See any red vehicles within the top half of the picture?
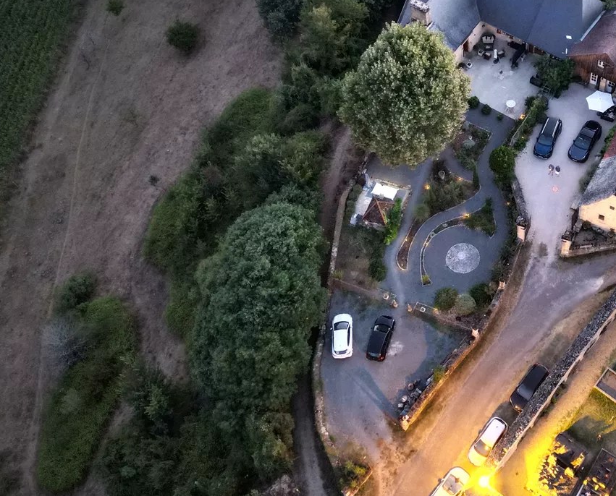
No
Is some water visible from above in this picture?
No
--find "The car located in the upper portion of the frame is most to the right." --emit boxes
[571,121,601,163]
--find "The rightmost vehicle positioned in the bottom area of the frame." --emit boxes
[503,358,548,413]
